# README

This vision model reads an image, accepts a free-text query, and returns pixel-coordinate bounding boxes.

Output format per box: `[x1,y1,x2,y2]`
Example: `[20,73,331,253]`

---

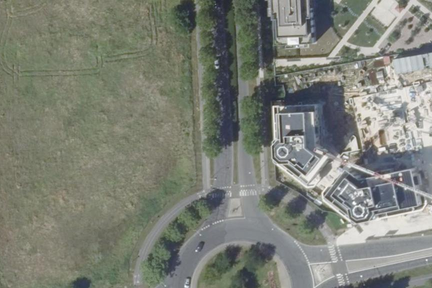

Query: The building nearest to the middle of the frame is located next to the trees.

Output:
[271,104,329,188]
